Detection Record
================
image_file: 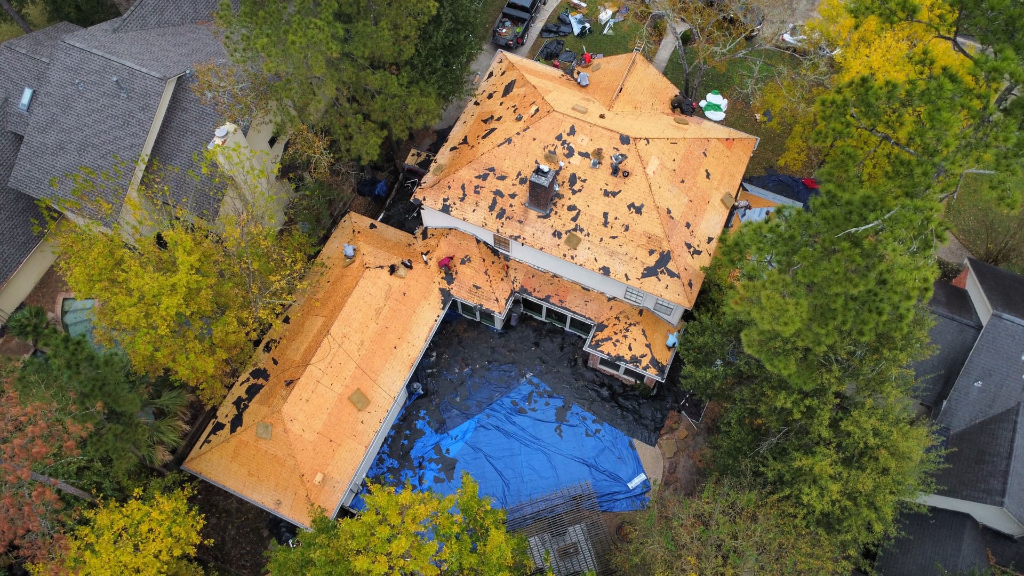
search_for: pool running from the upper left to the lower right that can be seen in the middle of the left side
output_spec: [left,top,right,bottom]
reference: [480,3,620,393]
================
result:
[56,291,187,400]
